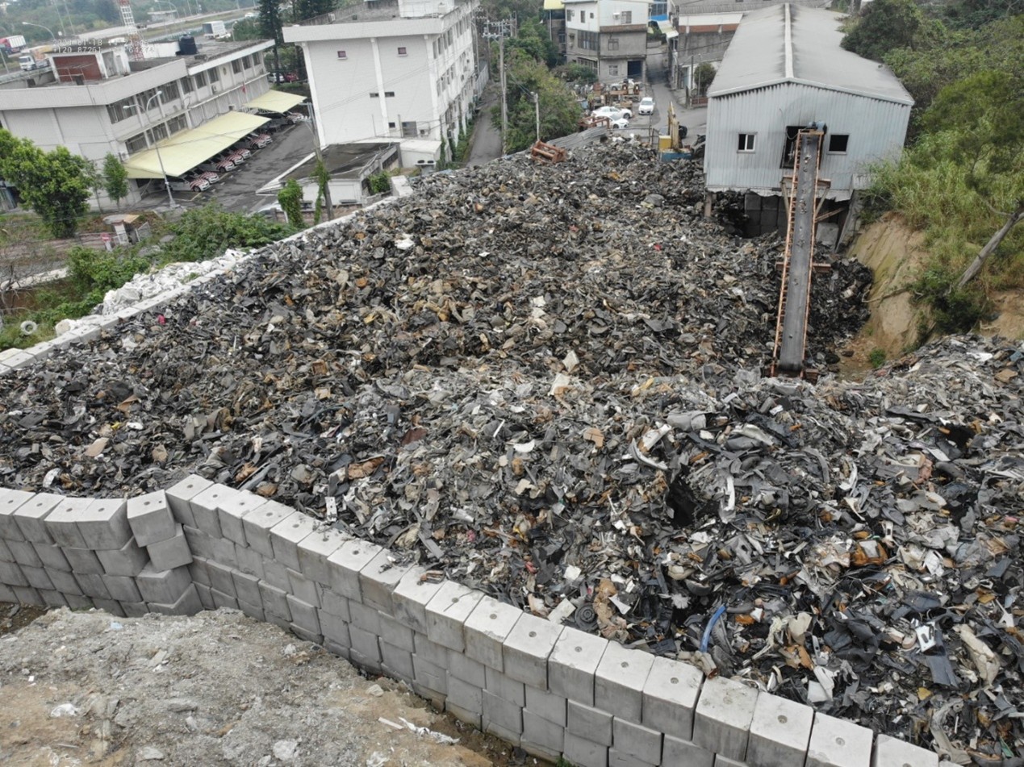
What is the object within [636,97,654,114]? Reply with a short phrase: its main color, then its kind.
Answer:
white car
